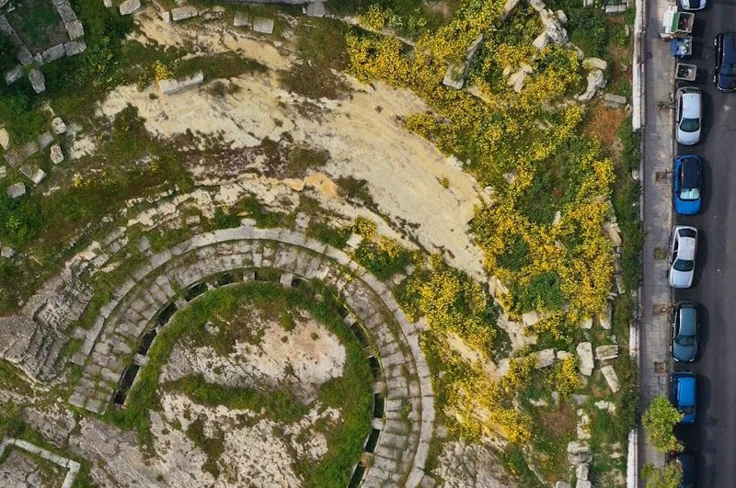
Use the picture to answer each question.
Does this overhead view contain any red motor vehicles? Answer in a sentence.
No, this view has no red motor vehicle in it.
